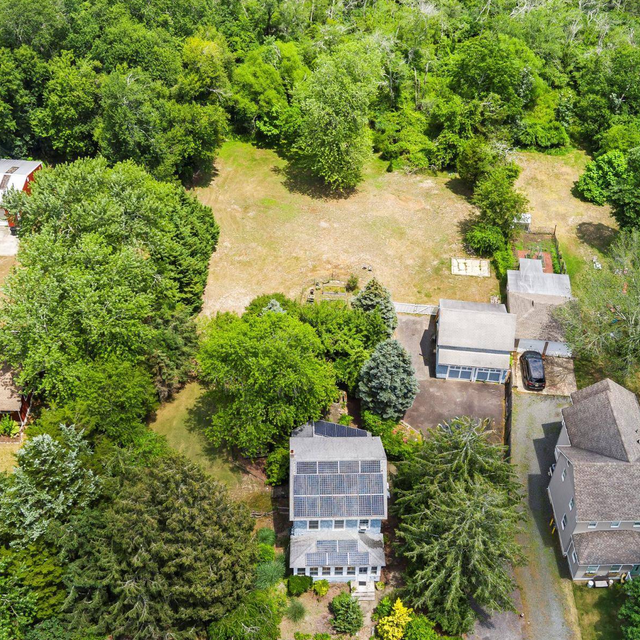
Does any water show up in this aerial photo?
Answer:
No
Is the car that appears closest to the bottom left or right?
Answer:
right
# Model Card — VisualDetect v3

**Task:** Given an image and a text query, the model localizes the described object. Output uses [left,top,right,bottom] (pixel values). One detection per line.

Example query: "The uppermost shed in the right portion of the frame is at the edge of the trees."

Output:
[515,211,537,234]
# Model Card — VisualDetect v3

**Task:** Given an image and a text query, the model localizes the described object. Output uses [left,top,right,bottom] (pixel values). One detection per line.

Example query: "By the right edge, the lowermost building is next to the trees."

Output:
[540,376,640,580]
